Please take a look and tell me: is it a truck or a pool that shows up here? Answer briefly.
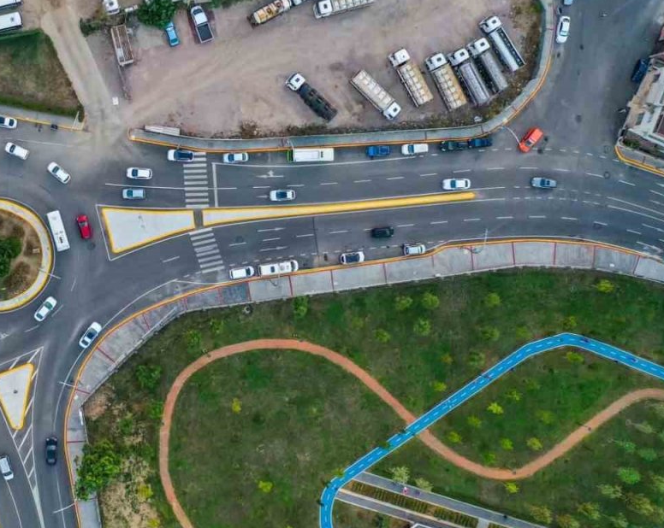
truck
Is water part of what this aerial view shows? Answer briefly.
No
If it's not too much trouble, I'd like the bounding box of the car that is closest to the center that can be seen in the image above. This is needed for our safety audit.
[338,250,365,264]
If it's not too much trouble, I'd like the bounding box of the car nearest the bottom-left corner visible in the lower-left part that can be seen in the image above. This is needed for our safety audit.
[0,453,16,482]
